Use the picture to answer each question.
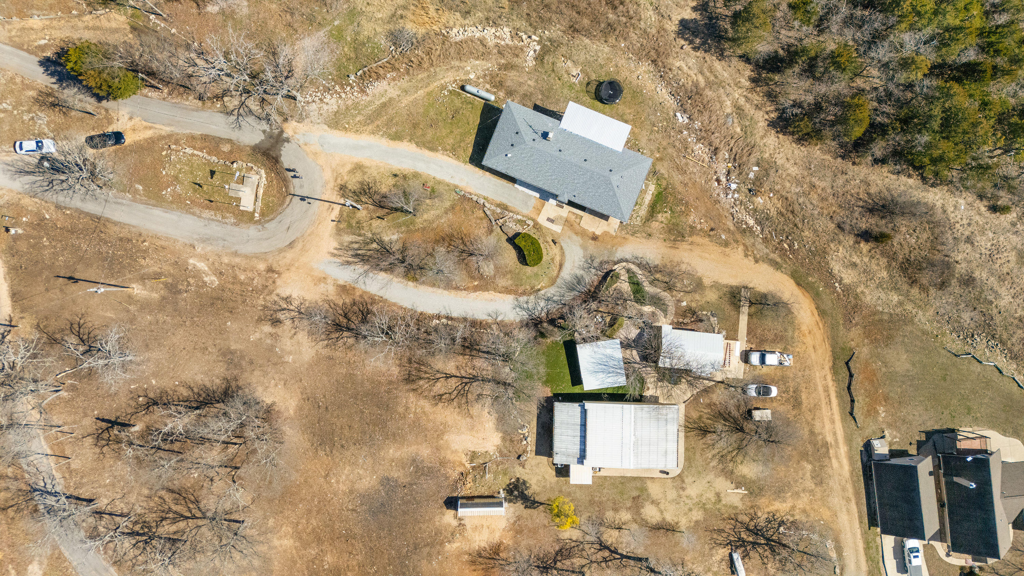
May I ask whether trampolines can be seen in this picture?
Yes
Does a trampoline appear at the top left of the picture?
No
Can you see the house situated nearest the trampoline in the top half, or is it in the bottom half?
top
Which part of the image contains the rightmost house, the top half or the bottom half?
bottom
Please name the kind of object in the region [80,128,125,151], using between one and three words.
car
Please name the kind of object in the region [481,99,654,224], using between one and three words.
house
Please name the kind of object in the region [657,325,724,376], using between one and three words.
building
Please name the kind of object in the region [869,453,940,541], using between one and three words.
building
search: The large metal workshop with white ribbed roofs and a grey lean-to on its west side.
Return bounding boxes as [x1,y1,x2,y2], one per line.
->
[552,399,680,469]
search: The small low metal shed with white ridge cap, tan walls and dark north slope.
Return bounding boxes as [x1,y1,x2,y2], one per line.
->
[458,498,505,516]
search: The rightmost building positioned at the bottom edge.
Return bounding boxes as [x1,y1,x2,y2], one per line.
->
[930,448,1024,560]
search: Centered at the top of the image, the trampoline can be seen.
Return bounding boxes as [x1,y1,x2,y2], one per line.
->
[598,73,628,104]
